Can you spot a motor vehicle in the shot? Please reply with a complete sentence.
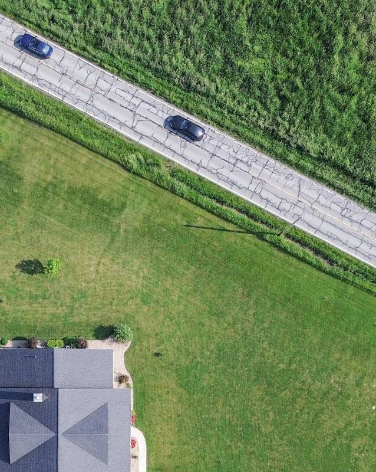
Yes, the photo shows a motor vehicle.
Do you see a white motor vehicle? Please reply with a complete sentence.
No, the photo shows no white motor vehicle.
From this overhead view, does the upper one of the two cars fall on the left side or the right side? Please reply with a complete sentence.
You can find the upper one of the two cars on the left side of the picture.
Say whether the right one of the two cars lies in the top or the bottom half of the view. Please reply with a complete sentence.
The top half of the photo is where the right one of the two cars is.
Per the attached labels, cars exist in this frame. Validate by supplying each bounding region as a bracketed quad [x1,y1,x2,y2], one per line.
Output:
[169,116,205,143]
[20,34,55,61]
